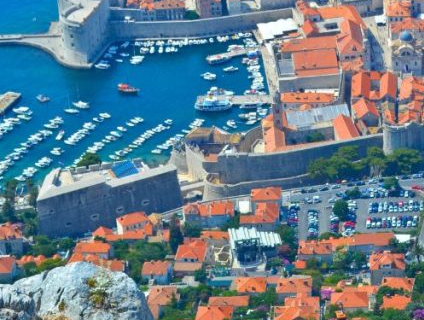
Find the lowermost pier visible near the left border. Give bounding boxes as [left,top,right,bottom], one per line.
[0,92,22,114]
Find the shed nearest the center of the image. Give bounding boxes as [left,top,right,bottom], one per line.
[192,120,245,151]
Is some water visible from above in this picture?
Yes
